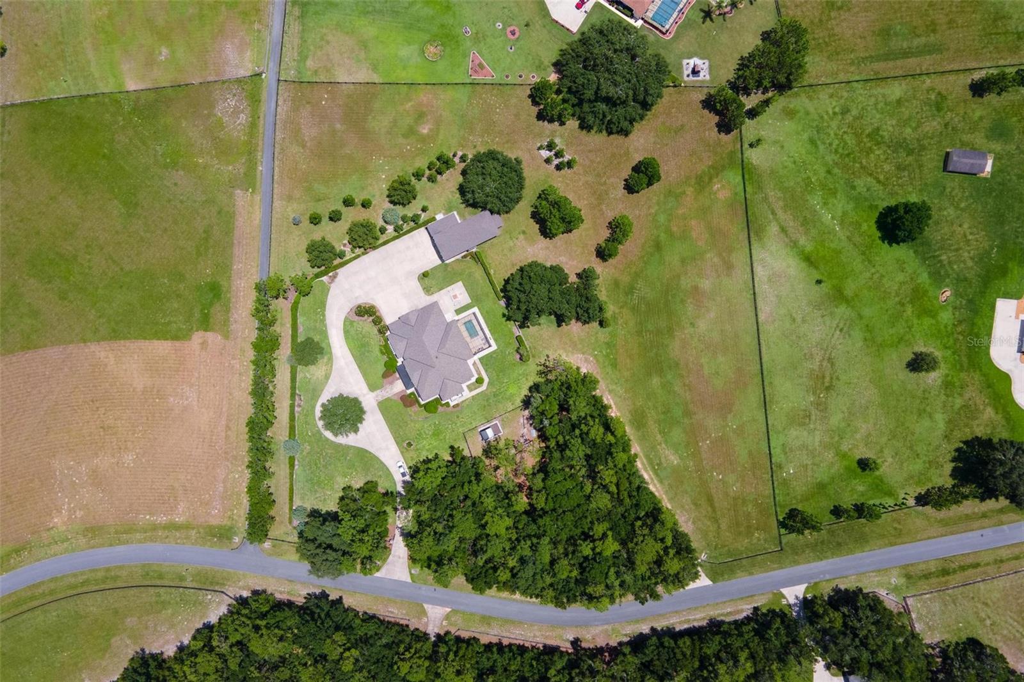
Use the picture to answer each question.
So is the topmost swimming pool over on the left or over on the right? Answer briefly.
right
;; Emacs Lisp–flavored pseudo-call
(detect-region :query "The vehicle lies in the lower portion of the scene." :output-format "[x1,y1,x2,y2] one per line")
[395,460,409,481]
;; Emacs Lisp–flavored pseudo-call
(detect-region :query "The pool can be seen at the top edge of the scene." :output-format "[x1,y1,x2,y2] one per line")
[652,0,681,23]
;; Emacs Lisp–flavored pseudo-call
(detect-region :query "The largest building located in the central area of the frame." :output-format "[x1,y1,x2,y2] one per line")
[387,300,475,402]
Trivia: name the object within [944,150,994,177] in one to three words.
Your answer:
shed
